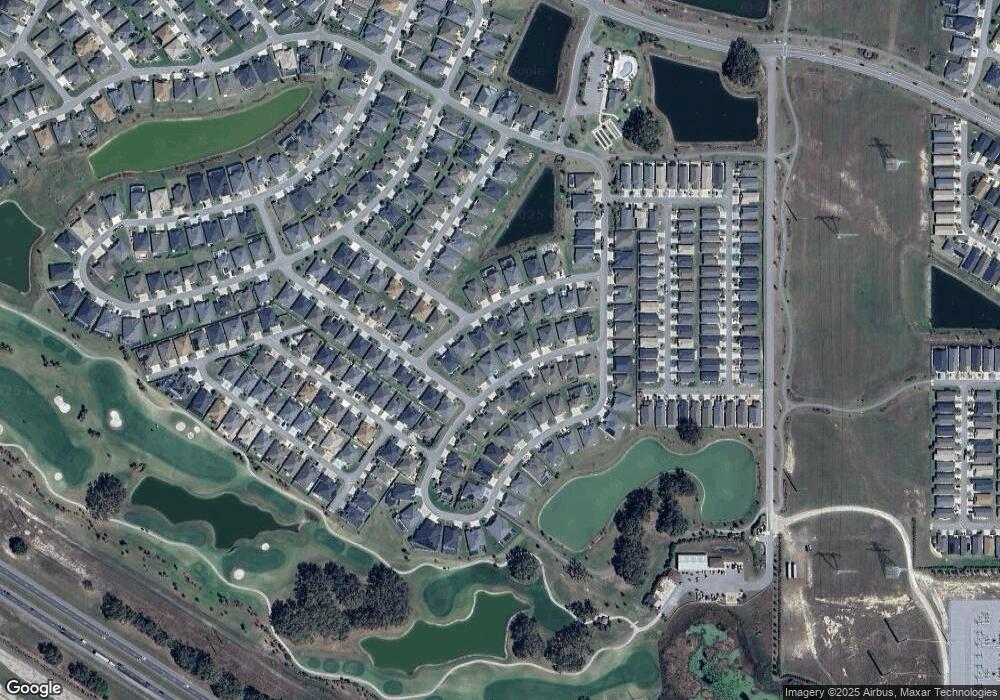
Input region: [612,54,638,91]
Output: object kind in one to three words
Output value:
swimming pool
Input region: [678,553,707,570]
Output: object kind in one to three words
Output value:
shed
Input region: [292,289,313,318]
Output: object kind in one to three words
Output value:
house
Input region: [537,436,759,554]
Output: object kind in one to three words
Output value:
pond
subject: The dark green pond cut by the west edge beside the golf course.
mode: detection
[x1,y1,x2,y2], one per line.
[0,199,45,294]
